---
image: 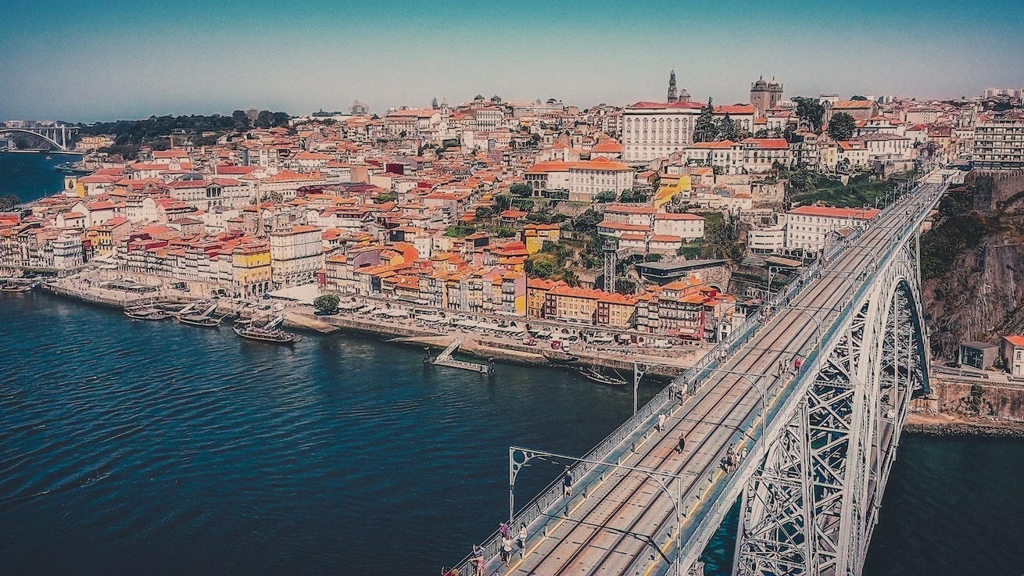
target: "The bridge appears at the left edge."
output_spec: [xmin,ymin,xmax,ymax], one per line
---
[0,123,82,151]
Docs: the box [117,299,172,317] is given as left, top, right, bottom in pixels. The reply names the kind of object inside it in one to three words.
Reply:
boat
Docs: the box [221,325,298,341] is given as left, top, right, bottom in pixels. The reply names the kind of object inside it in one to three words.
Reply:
boat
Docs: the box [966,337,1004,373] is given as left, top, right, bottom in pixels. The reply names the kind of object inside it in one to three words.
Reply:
building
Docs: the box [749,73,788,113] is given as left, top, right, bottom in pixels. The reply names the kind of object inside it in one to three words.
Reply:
building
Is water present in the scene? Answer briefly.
Yes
